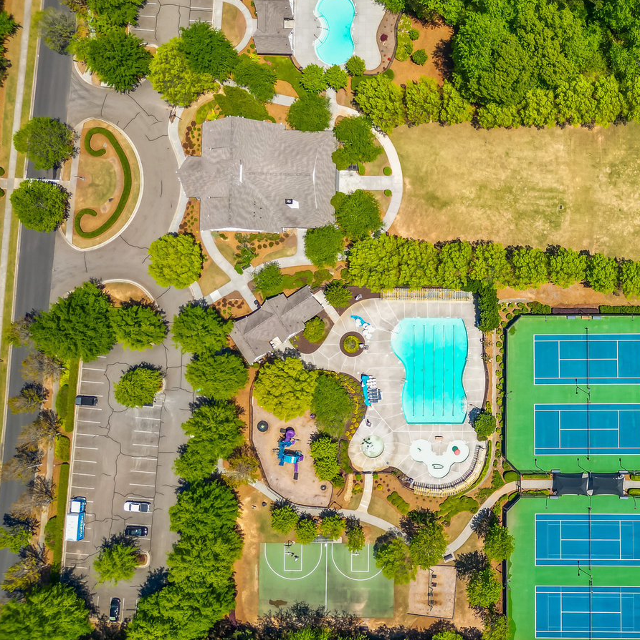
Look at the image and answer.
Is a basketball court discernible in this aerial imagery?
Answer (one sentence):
Yes, the image includes a basketball court.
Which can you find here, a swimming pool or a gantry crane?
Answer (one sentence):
This aerial view contains a swimming pool.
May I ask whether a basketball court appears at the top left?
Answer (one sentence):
No, I see no basketball court at the top left.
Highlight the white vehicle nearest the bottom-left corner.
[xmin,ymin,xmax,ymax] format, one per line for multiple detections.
[65,502,86,544]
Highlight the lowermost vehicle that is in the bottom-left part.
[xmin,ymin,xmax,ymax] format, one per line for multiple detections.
[110,597,122,621]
